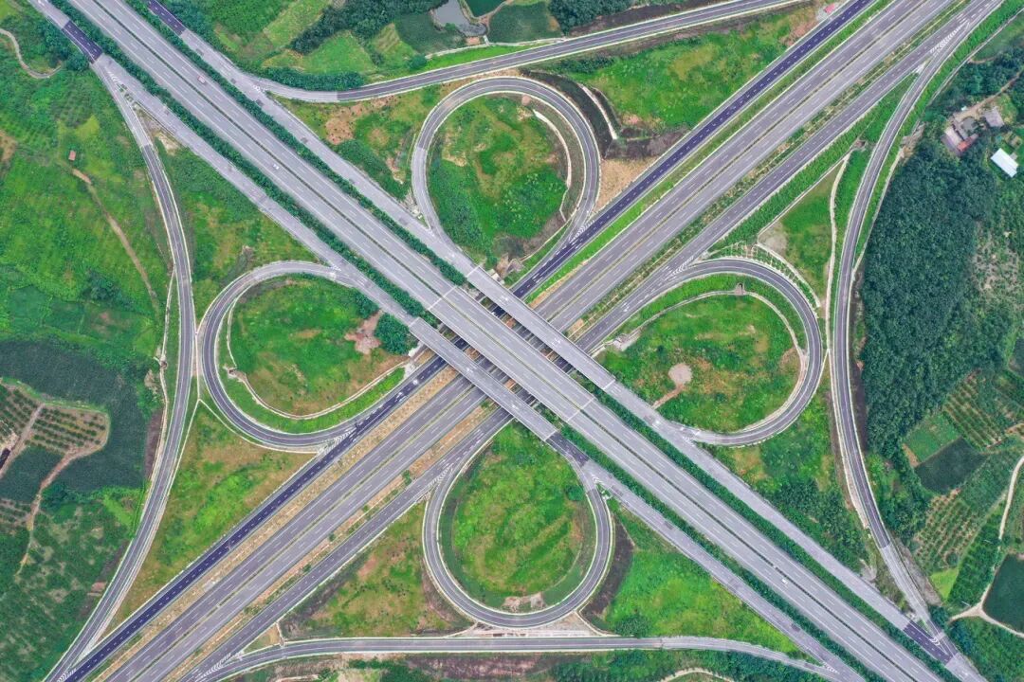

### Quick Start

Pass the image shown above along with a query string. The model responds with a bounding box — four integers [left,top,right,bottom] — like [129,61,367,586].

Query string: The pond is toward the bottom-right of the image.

[984,553,1024,632]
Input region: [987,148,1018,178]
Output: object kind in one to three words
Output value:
shed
